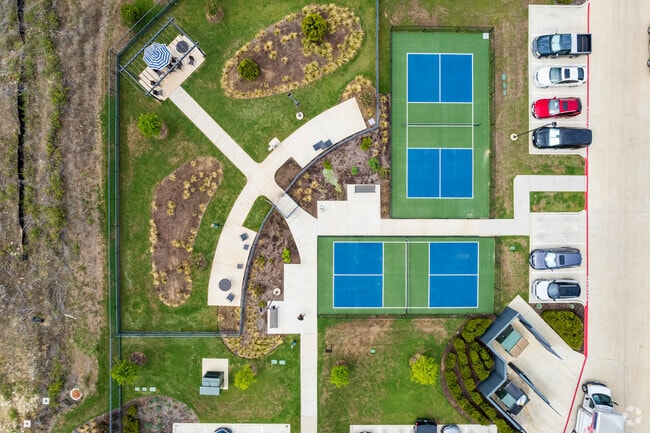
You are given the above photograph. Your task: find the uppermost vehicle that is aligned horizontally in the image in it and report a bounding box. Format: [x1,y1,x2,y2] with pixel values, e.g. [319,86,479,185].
[529,30,592,58]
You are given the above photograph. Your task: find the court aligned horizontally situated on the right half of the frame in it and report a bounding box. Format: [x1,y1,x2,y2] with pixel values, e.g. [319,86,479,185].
[319,236,495,317]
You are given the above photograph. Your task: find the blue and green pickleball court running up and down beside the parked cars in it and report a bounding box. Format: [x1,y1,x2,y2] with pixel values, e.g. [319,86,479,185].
[392,31,490,218]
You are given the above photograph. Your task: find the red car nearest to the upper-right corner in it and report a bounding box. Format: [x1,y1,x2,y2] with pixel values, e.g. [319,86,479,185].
[528,96,583,121]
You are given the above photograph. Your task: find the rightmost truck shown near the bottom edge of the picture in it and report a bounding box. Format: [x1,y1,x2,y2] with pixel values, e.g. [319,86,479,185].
[576,378,625,433]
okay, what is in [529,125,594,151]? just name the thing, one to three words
vehicle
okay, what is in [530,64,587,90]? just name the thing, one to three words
car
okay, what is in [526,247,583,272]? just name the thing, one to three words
car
